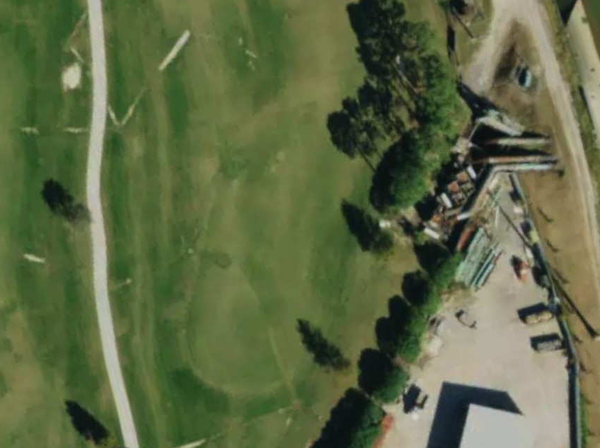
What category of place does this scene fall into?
golf course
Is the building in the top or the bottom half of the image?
bottom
